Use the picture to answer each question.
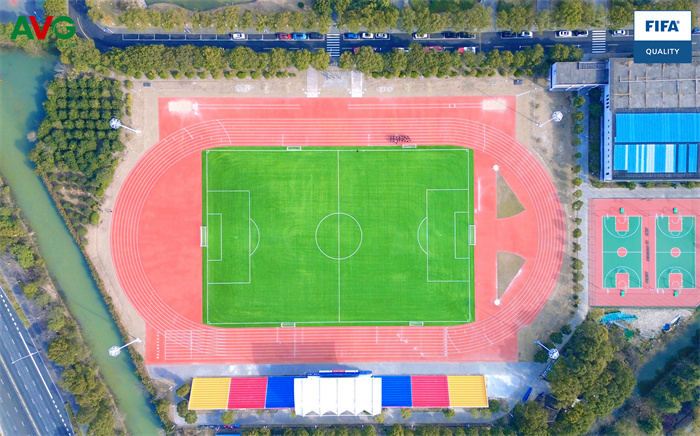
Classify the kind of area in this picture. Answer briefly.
sports ground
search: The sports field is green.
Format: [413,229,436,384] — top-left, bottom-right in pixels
[202,144,475,329]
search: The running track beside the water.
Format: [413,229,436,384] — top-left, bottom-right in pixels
[111,96,565,364]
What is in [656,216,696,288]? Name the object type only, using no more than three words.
basketball court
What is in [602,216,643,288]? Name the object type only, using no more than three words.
basketball court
